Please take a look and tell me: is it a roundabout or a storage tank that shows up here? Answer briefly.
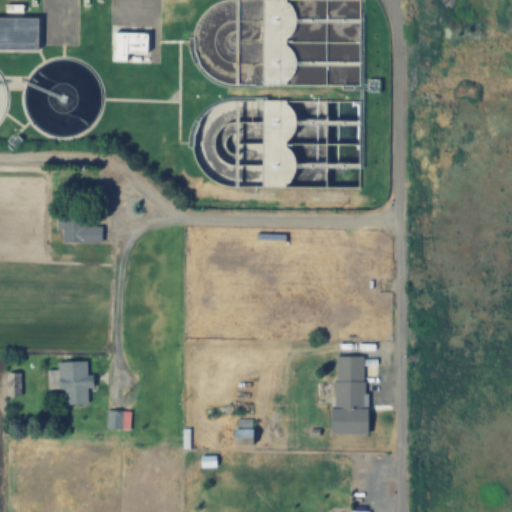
storage tank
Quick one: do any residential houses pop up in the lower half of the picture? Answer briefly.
Yes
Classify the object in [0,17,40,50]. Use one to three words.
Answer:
building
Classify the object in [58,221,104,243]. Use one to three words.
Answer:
house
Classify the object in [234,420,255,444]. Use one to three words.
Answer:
barn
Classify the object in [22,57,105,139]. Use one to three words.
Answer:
storage tank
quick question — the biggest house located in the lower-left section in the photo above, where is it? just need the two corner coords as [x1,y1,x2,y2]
[58,362,94,406]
